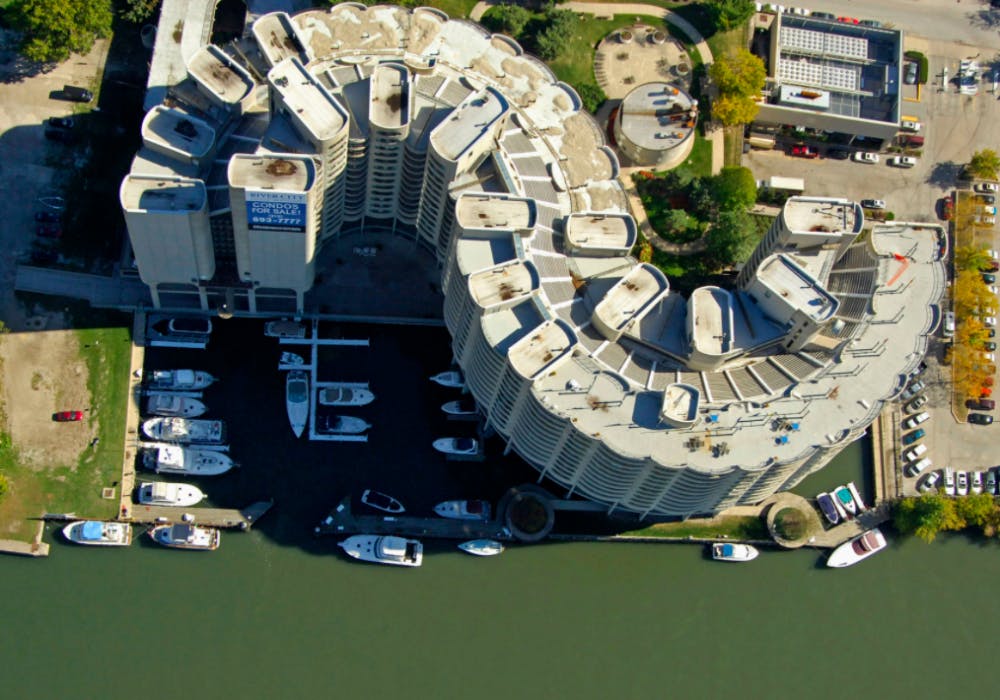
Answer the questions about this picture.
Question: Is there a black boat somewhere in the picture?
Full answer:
Yes, there's a black boat here.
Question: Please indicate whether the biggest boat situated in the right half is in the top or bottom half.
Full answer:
You can find the biggest boat situated in the right half in the bottom half.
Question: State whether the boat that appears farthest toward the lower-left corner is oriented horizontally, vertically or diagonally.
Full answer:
In this picture, the boat that appears farthest toward the lower-left corner lies horizontally.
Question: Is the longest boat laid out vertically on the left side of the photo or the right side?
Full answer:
The longest boat laid out vertically appears in the left half of the scene.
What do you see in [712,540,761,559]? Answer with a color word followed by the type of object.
white boat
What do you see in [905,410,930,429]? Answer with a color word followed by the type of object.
white car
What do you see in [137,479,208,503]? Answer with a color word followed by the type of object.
white boat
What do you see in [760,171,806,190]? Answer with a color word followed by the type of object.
white vehicle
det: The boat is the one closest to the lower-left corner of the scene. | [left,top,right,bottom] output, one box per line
[62,517,133,545]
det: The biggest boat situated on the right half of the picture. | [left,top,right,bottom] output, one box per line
[827,525,893,566]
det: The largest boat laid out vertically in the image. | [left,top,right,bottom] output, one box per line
[286,370,309,437]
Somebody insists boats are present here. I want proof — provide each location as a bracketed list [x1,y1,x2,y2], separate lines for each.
[142,414,224,441]
[827,525,893,566]
[146,368,220,388]
[434,500,491,519]
[139,441,237,474]
[359,487,404,512]
[279,351,305,363]
[318,386,377,404]
[712,540,761,559]
[137,479,208,503]
[286,370,309,437]
[831,483,857,515]
[317,415,373,432]
[432,435,479,455]
[146,393,209,413]
[458,539,504,555]
[816,491,838,523]
[336,532,425,565]
[429,370,463,387]
[62,517,133,545]
[441,399,481,415]
[146,521,223,549]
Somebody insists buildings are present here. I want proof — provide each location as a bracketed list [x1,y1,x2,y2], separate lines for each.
[121,0,951,520]
[747,13,902,150]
